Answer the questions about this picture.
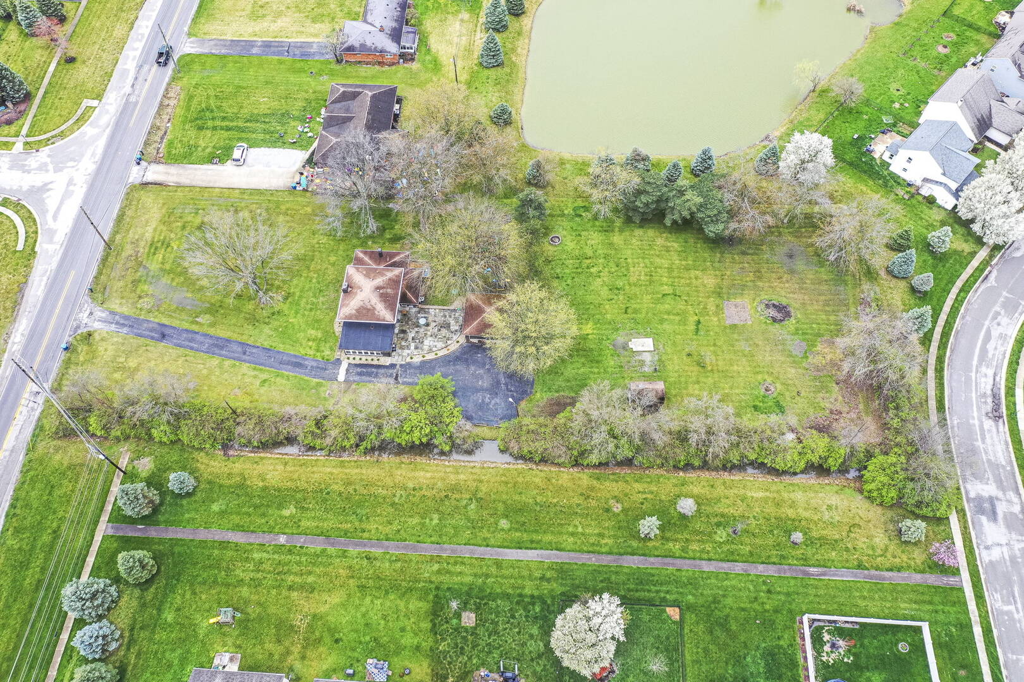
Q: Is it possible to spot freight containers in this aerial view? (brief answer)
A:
No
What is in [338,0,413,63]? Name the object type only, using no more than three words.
house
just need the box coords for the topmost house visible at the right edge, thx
[980,16,1024,106]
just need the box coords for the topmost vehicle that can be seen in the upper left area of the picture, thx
[156,48,173,68]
